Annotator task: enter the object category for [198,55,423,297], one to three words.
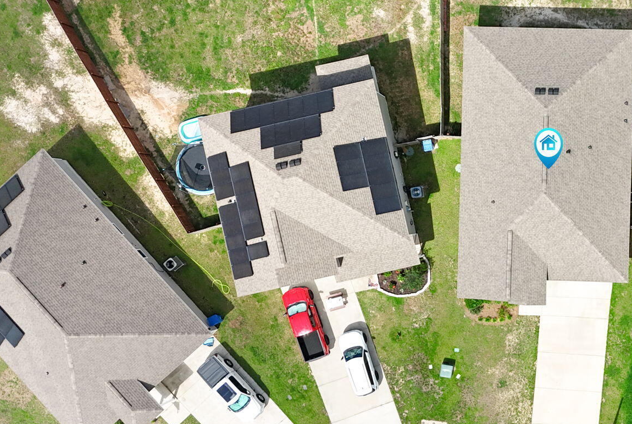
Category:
house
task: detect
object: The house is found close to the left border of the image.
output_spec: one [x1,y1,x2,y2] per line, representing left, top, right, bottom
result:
[0,149,221,424]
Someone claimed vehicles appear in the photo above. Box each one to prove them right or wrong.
[197,349,269,423]
[286,282,331,361]
[341,327,379,395]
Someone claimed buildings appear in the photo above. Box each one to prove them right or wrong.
[457,25,632,306]
[0,149,221,424]
[198,55,423,297]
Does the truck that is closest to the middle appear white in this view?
No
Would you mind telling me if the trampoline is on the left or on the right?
left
